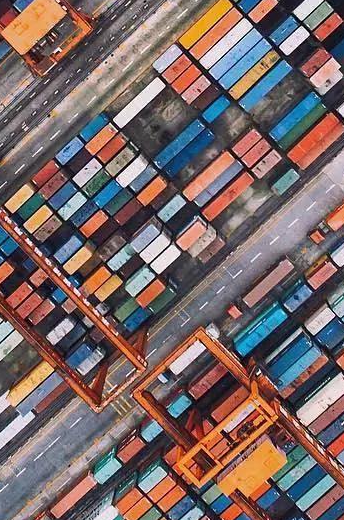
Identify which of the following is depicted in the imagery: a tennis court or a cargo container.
cargo container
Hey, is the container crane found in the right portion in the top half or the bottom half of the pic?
bottom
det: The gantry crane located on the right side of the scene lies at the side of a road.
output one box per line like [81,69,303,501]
[129,322,344,520]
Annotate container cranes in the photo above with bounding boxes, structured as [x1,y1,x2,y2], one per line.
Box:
[0,0,101,80]
[0,200,159,417]
[129,322,344,520]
